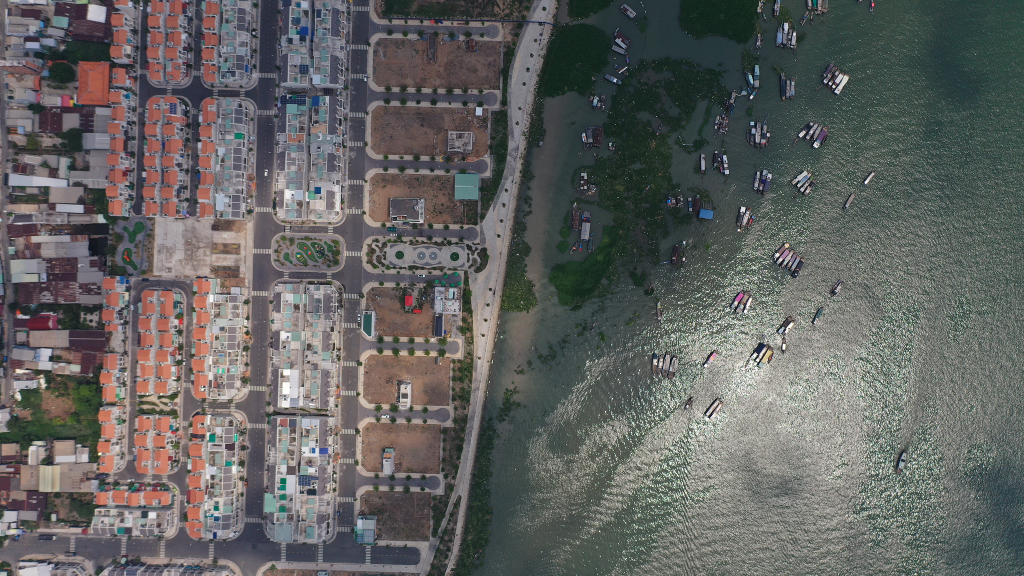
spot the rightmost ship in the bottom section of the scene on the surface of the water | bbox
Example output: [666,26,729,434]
[896,450,908,474]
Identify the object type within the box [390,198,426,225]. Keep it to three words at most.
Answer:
house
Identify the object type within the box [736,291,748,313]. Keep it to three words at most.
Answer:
boat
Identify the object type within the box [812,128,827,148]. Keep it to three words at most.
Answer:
boat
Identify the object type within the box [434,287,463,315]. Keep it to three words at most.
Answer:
building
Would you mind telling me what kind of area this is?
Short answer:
residential area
